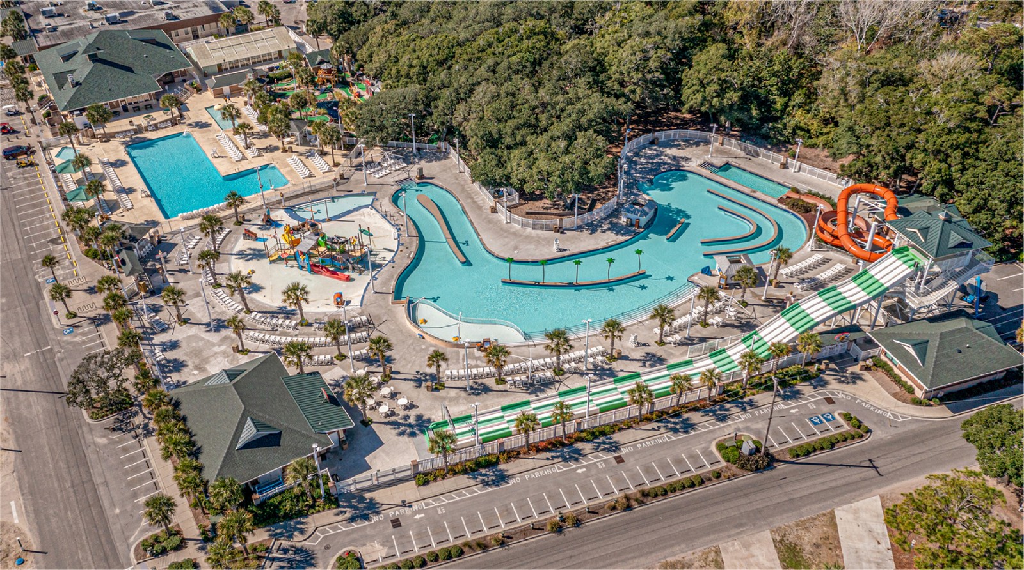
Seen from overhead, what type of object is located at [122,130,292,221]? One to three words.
swimming pool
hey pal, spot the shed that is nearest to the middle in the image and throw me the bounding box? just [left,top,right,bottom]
[623,196,657,228]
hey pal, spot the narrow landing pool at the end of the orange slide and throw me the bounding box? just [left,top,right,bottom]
[713,162,794,200]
